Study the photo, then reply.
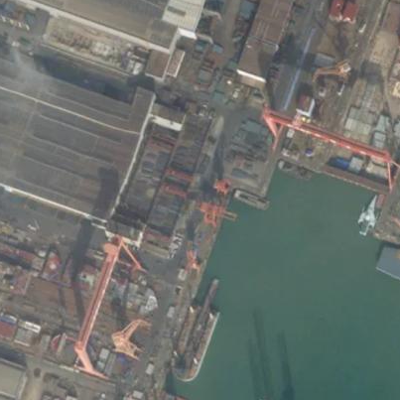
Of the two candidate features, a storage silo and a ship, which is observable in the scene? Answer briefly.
ship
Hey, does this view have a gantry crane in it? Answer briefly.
Yes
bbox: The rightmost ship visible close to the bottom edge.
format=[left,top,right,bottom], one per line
[172,280,220,381]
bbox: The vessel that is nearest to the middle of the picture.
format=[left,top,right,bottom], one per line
[233,190,269,210]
